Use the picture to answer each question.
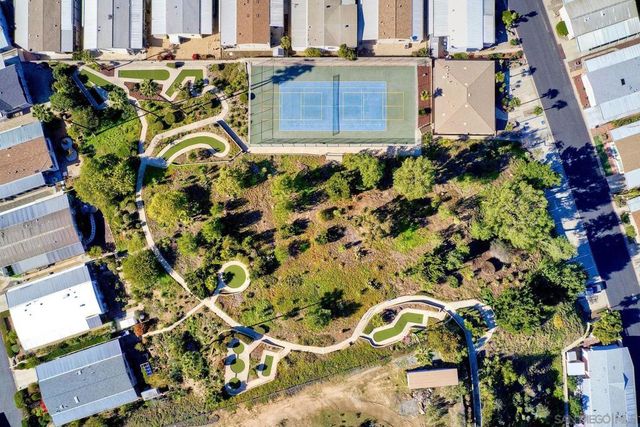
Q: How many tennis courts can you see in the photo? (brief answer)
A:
1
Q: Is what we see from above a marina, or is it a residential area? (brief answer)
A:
residential area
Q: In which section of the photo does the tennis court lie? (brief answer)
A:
top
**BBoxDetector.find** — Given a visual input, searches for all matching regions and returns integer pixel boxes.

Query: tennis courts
[249,64,418,146]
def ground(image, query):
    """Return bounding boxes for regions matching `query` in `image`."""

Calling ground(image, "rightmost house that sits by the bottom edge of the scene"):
[576,342,637,427]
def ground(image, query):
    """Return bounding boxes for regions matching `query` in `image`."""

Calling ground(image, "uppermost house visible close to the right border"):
[555,0,640,55]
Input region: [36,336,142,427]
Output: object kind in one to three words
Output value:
house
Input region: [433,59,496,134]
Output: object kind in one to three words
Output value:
building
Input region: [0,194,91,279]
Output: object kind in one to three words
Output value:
house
